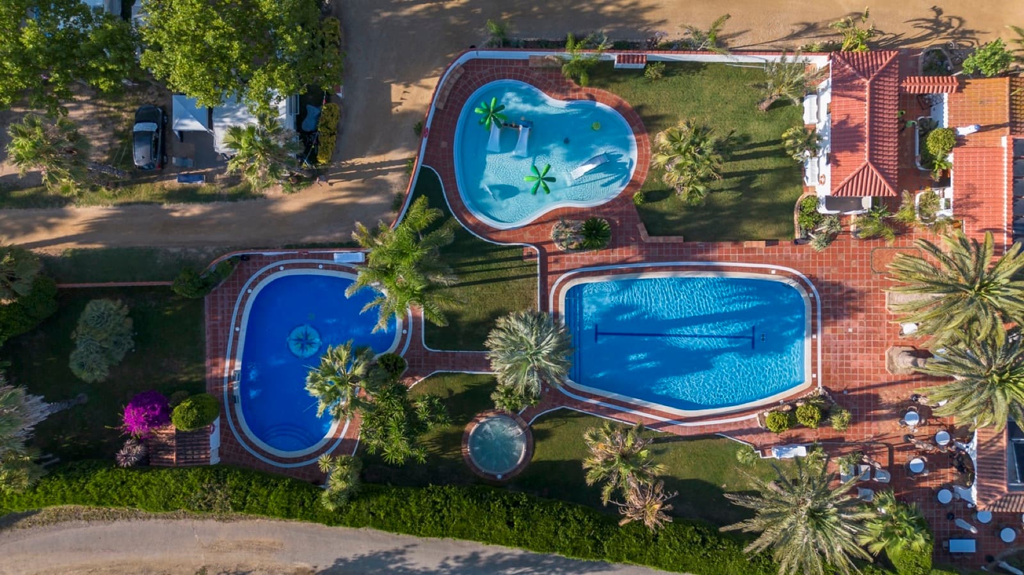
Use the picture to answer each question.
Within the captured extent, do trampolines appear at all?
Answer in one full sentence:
No, the photo shows no trampoline.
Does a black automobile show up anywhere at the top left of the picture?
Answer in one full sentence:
Yes, a black automobile is visible at the top left of the picture.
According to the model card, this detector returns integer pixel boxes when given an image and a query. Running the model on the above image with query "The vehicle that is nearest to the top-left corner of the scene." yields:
[130,107,168,171]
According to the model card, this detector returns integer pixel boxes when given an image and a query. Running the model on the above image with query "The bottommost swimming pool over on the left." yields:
[224,259,412,466]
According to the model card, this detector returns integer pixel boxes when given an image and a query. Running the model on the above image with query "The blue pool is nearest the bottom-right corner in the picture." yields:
[549,262,821,426]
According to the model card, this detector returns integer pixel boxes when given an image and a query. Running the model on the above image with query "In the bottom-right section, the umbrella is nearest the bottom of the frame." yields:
[986,554,1021,575]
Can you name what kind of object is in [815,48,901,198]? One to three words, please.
building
